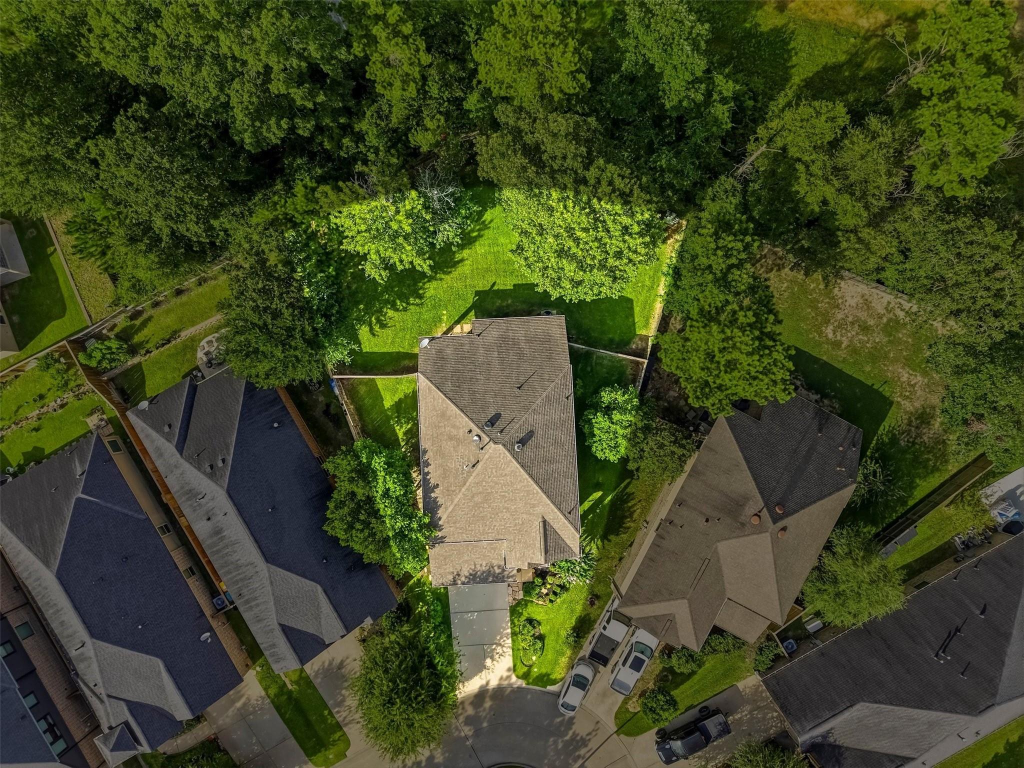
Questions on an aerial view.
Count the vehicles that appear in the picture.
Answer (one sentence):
The picture shows 4 vehicles.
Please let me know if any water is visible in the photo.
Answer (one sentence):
No, no water is visible.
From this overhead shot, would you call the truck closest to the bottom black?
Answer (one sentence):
Yes, black is the color of the truck closest to the bottom.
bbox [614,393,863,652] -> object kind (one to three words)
house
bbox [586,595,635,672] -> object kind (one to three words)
truck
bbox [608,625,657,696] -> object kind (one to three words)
car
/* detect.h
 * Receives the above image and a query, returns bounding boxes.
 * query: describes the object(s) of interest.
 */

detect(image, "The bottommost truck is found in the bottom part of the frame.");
[658,701,731,757]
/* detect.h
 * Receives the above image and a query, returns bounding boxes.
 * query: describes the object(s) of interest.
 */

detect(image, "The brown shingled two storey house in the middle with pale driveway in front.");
[416,314,582,588]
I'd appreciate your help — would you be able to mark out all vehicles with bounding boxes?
[658,701,731,757]
[555,655,595,718]
[586,595,635,672]
[608,625,657,696]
